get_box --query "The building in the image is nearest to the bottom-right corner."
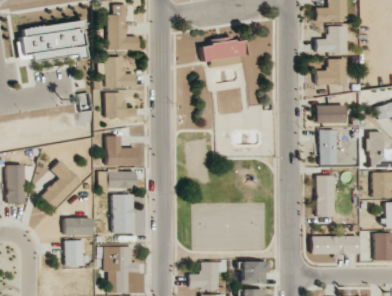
[370,232,392,260]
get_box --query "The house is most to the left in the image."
[3,164,24,204]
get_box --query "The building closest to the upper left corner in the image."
[16,20,88,61]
